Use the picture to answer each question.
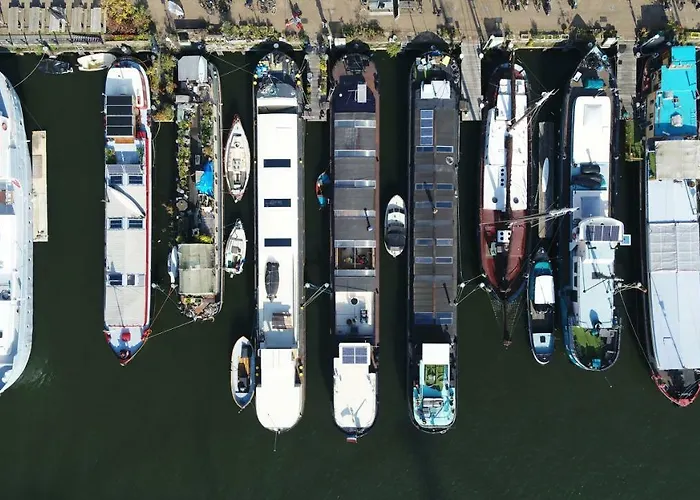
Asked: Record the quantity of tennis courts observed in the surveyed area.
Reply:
zero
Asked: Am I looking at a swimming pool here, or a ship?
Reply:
ship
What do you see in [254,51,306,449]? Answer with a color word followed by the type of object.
white boat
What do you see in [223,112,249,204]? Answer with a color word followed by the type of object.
white boat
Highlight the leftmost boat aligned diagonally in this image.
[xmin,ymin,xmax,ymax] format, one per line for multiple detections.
[107,186,144,220]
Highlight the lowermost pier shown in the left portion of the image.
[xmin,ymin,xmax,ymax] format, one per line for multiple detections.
[33,131,48,242]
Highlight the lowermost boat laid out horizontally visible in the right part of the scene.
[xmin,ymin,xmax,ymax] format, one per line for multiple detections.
[570,172,608,187]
